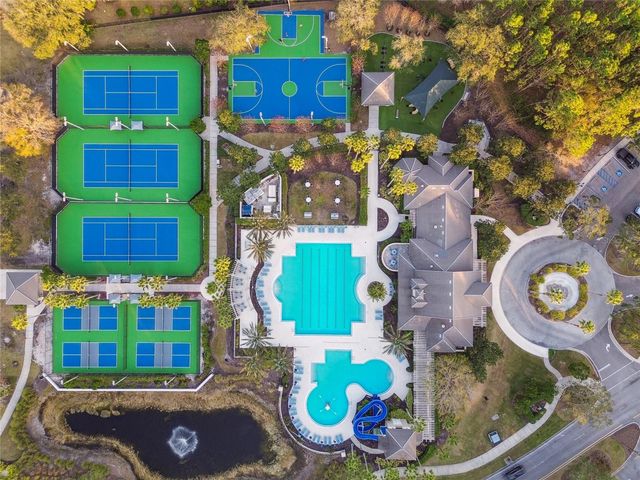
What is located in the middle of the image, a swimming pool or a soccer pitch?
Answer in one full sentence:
It is a swimming pool that can be seen in the middle of the image.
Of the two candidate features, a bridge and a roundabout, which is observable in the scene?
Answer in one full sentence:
The image shows a roundabout.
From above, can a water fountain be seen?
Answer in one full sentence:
Yes, the photo shows a water fountain.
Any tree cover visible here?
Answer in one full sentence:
Yes, there is tree cover in the image.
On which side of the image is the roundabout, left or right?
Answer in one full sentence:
The roundabout sits on the right side.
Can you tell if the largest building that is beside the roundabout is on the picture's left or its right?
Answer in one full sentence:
It is on the right.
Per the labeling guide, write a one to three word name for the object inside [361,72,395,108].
building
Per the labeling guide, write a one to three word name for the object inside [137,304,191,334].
sports court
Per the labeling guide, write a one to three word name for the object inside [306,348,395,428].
swimming pool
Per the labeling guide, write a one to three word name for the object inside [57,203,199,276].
tennis court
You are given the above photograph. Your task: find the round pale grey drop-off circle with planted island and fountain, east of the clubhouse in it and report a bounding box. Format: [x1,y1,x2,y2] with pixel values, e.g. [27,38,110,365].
[501,234,615,348]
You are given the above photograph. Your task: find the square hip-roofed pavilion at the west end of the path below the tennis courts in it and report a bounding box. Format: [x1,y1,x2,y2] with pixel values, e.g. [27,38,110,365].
[6,272,46,305]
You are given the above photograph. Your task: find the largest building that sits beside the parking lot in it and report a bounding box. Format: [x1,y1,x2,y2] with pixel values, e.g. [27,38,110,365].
[395,155,492,352]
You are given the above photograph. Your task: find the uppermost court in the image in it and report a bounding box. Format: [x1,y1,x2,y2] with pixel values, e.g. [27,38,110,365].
[258,9,351,55]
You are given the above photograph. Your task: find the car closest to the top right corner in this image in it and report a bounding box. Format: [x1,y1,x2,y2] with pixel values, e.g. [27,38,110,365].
[619,149,639,168]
